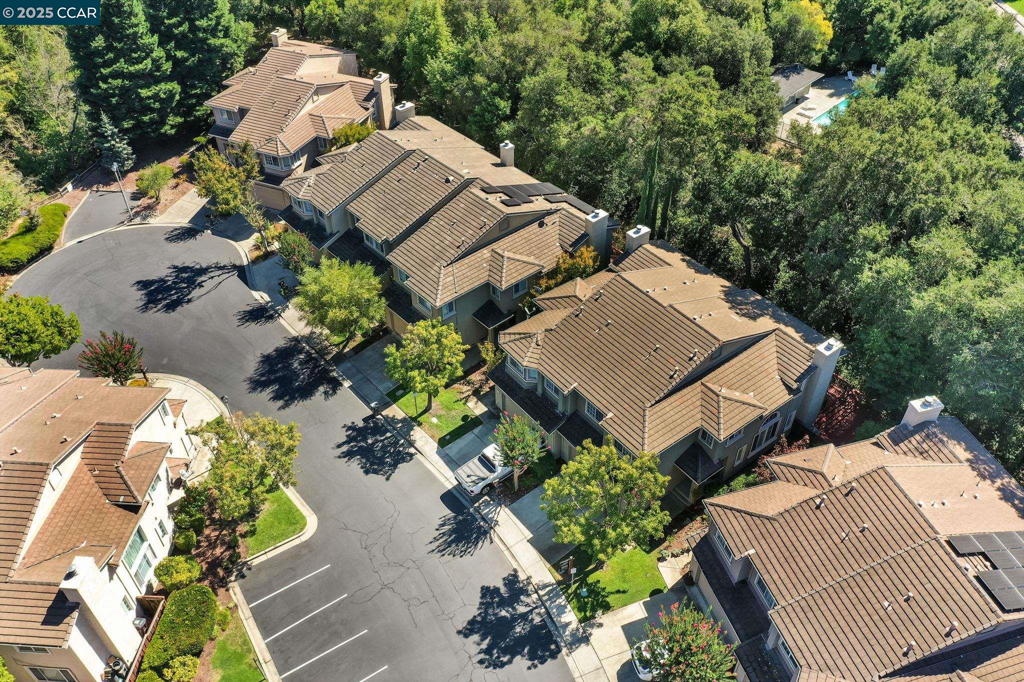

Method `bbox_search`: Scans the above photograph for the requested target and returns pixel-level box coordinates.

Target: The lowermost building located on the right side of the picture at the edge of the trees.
[683,385,1024,682]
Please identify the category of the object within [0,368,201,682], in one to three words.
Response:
house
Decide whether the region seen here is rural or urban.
urban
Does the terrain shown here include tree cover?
Yes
